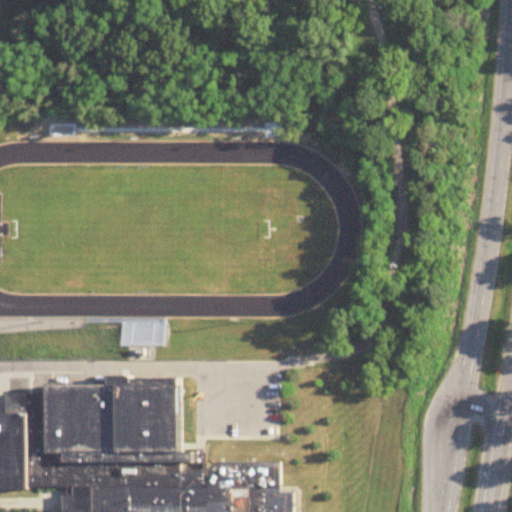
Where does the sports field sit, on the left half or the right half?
left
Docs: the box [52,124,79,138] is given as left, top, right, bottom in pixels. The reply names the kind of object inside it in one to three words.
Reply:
shed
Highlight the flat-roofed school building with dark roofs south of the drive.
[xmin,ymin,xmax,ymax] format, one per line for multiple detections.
[0,376,296,512]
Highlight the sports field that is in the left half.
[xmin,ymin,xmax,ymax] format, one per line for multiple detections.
[0,164,340,294]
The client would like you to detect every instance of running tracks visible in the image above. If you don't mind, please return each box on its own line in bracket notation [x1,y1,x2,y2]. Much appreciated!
[0,141,362,318]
